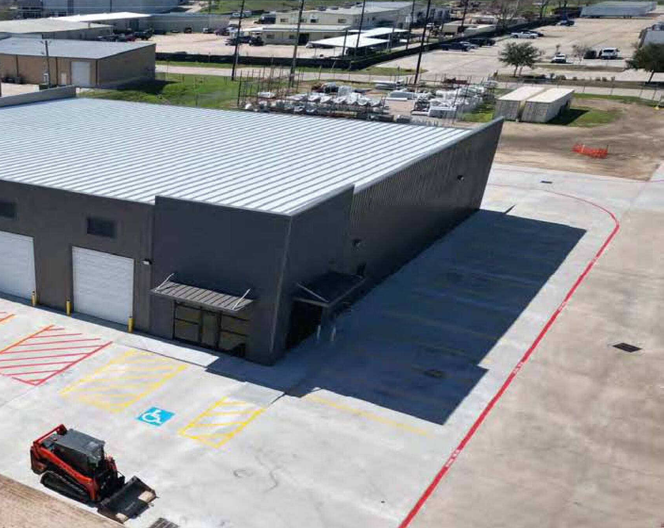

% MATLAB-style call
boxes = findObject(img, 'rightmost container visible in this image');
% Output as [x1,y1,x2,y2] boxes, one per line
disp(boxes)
[515,90,576,129]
